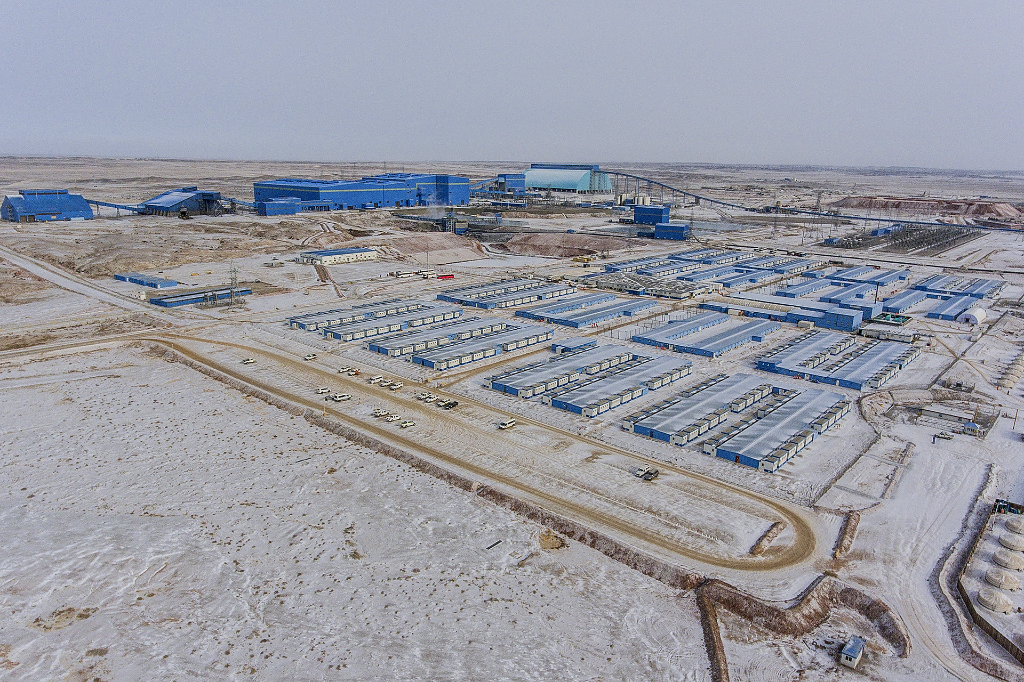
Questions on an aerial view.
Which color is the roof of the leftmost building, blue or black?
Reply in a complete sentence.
From above, the roof of the leftmost building appears blue.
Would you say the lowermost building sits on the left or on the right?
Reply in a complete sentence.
You can find the lowermost building on the right side of the picture.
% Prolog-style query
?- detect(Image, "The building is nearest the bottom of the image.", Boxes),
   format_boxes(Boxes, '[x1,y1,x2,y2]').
[840,632,867,668]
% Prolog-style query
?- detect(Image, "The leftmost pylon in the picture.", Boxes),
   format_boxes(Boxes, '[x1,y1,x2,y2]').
[227,257,243,310]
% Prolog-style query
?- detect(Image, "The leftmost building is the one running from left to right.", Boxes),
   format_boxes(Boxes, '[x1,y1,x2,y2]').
[0,191,93,221]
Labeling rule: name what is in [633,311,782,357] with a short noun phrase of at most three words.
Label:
building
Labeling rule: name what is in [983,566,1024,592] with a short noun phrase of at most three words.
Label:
tent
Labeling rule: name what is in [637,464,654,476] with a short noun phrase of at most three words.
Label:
vehicle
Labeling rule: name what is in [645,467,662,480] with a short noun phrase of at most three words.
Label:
vehicle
